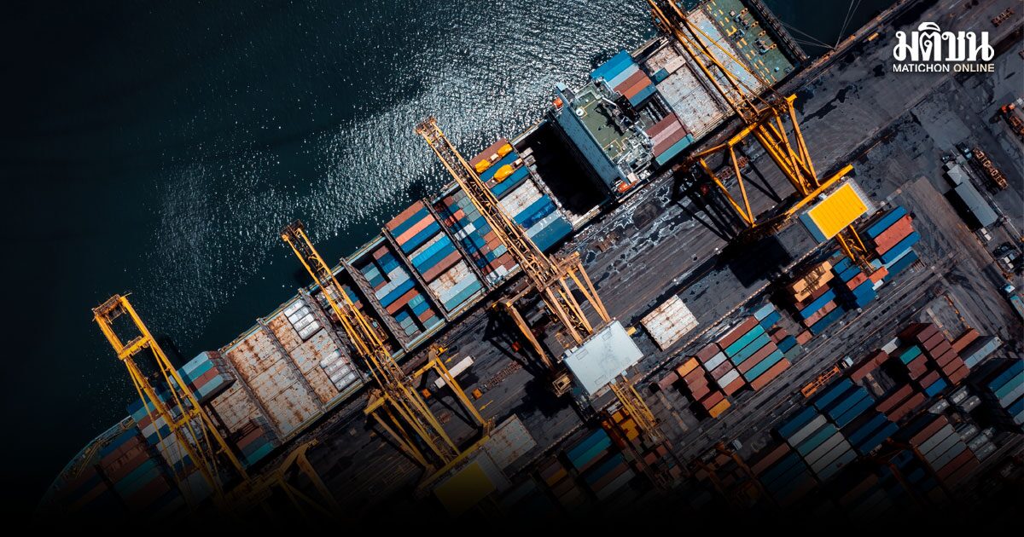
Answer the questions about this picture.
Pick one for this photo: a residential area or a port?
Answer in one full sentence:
The area seen from above is a port.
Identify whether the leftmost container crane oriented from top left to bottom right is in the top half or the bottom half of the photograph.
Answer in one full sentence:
It is in the bottom half that the leftmost container crane oriented from top left to bottom right appears.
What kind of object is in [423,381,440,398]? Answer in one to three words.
vehicle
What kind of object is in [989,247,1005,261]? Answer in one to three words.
car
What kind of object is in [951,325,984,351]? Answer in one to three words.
shipping container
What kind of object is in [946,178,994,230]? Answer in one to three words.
shed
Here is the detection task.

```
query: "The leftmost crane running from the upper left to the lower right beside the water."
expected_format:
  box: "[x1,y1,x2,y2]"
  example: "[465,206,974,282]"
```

[91,293,372,537]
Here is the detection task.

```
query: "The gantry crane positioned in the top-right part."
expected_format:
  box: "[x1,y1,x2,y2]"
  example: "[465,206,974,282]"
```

[649,0,884,282]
